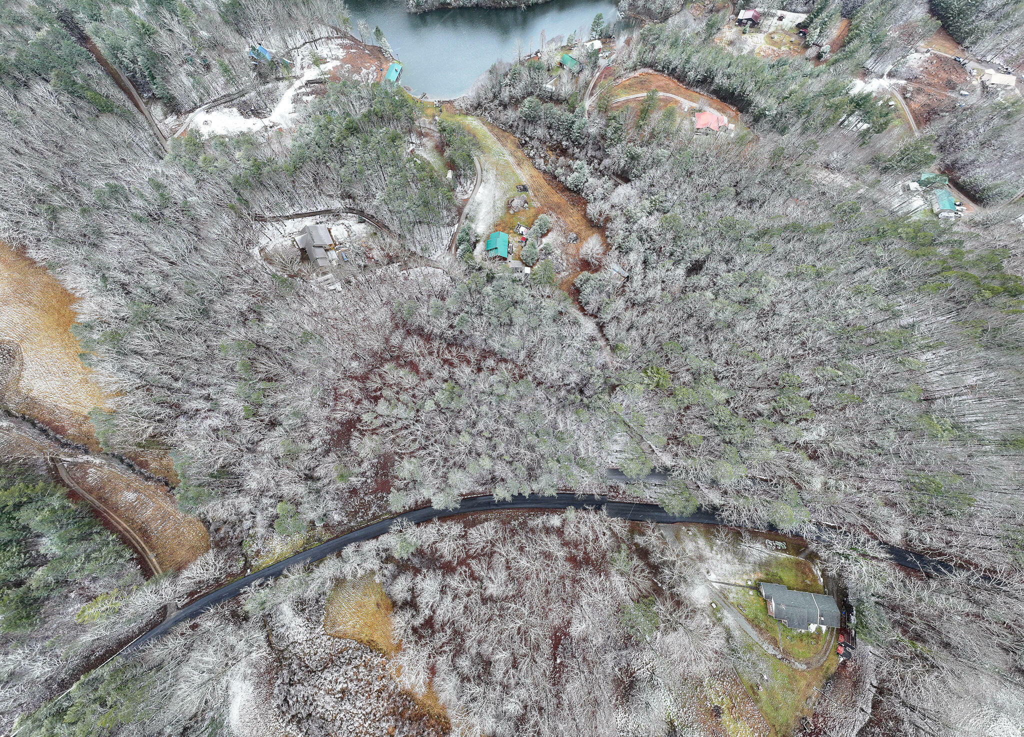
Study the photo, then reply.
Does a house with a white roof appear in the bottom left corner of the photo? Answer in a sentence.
No, there is no house with a white roof in the bottom left corner of the photo.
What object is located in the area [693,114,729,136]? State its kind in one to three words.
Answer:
house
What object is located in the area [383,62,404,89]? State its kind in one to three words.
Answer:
building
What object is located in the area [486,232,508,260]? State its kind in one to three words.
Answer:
house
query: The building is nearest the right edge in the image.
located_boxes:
[977,69,1018,92]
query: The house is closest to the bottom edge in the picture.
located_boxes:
[754,581,842,634]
